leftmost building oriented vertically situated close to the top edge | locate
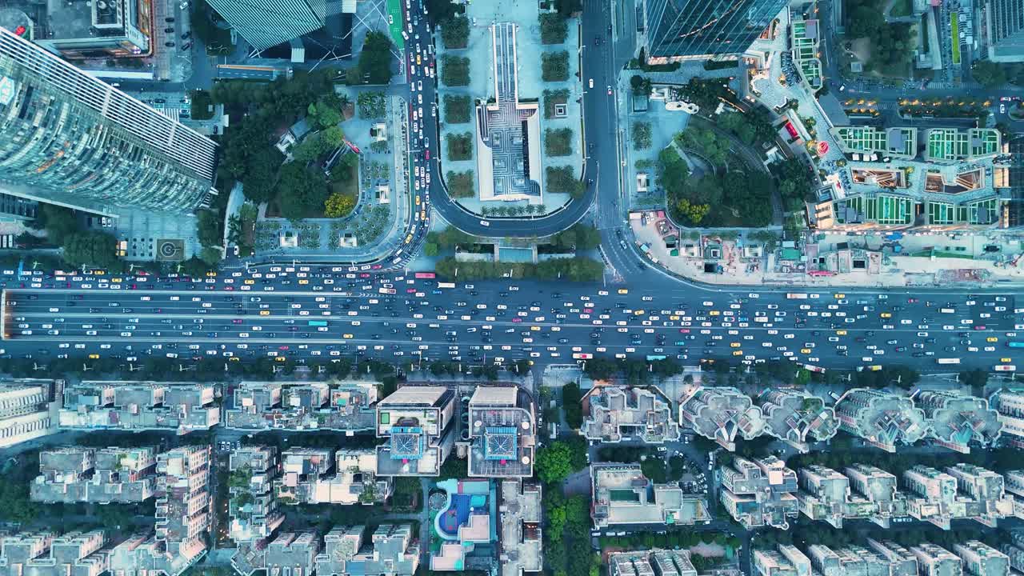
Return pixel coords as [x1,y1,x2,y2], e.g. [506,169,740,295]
[476,21,543,206]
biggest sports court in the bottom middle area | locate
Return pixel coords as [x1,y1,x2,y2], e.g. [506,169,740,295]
[439,494,489,535]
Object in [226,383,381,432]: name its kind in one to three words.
building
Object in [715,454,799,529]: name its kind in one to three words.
building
